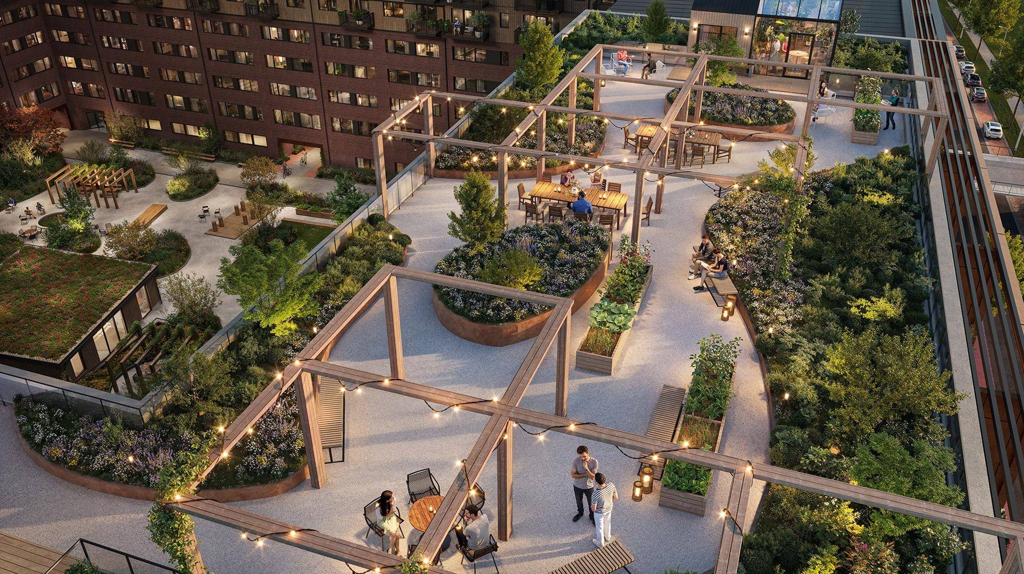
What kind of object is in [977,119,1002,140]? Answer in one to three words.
car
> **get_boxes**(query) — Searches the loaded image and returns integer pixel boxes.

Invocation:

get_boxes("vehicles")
[953,44,971,59]
[966,85,988,103]
[977,119,1002,140]
[961,70,982,86]
[958,58,976,73]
